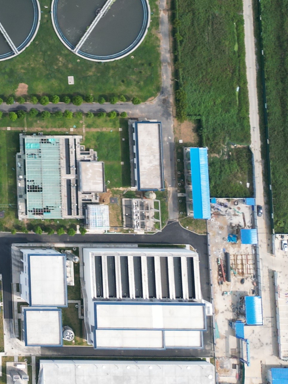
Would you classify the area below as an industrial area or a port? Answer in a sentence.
It's an industrial area.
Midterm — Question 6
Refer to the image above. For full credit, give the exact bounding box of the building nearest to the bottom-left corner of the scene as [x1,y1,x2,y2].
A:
[20,305,62,346]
